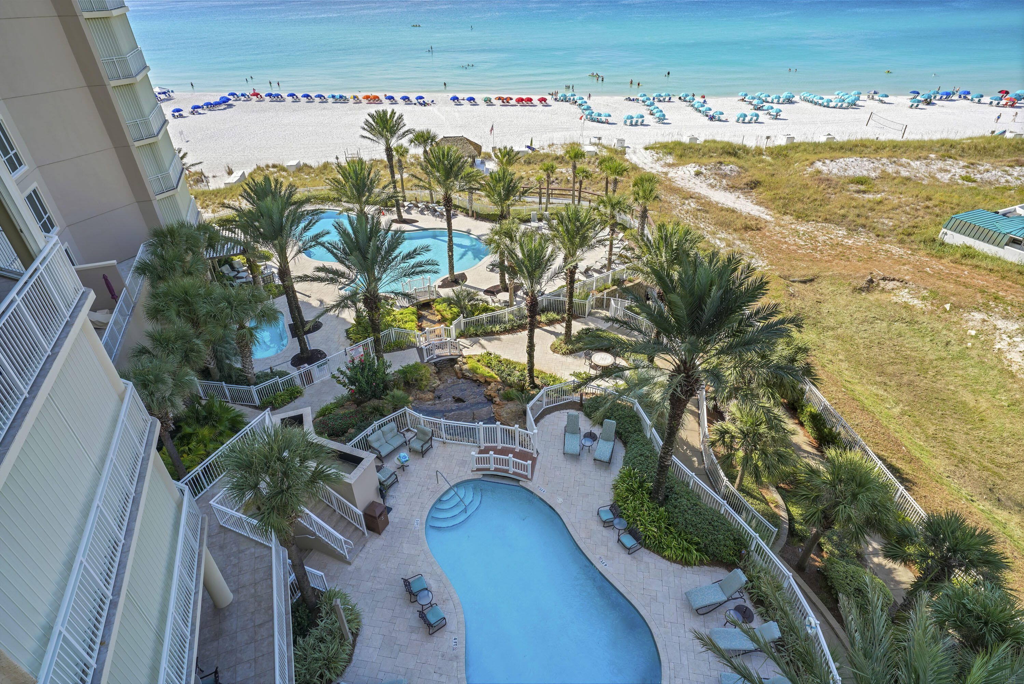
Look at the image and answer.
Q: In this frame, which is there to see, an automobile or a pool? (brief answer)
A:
pool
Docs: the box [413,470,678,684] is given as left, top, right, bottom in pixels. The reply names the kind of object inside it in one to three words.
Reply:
swimming pool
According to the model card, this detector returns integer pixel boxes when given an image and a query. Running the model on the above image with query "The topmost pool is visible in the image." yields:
[294,208,492,294]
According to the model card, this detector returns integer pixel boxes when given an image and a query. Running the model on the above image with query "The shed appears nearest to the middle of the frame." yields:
[429,136,478,168]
